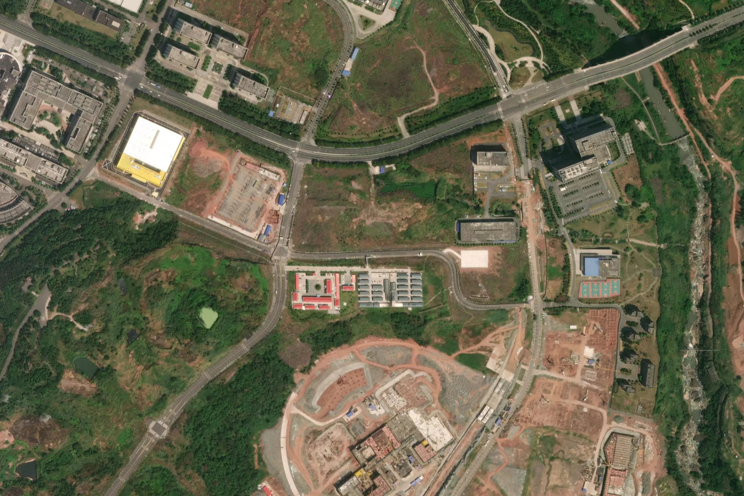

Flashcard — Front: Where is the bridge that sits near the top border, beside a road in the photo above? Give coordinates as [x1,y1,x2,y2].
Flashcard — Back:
[539,23,697,99]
